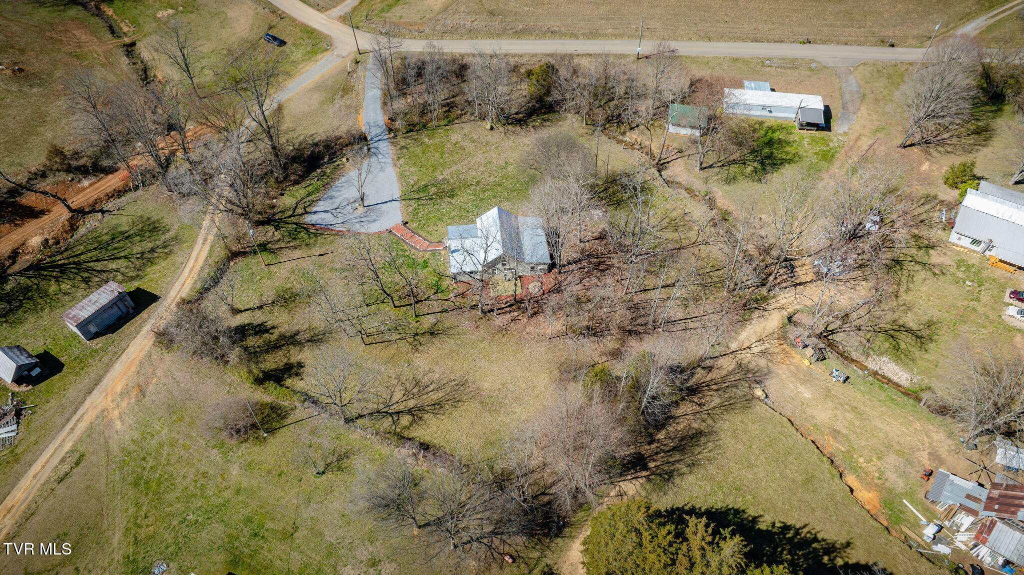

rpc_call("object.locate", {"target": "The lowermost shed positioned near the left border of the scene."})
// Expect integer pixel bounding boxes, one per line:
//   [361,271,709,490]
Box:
[0,345,46,391]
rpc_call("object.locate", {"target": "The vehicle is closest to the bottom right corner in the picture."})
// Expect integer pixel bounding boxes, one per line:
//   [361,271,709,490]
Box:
[918,467,936,481]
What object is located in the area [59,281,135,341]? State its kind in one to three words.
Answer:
barn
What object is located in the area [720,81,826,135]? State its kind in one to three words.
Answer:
house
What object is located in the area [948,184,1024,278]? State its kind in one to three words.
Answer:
house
